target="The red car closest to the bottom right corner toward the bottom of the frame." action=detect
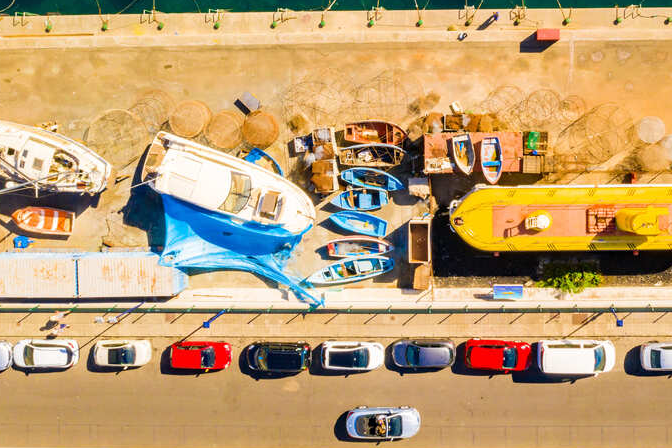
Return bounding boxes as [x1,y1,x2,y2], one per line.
[465,338,530,372]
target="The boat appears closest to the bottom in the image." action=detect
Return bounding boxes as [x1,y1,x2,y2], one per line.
[305,255,396,286]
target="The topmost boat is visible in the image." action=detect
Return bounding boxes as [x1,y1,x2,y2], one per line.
[344,119,408,146]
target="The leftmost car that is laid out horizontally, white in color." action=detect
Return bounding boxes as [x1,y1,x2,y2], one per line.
[13,339,81,373]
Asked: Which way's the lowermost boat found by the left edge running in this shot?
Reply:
from side to side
